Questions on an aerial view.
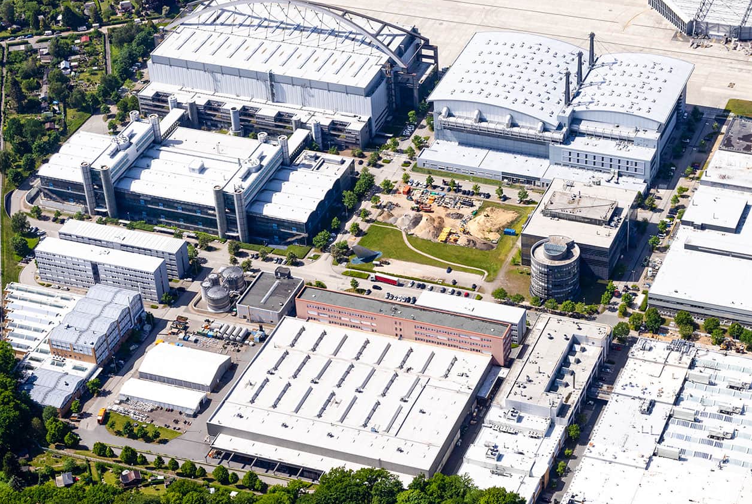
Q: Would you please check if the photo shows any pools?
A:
No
